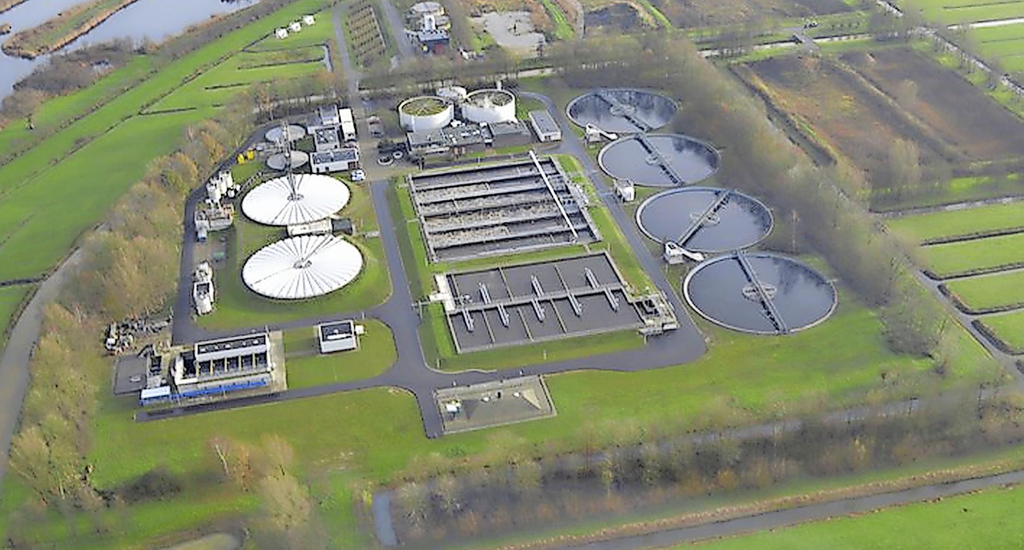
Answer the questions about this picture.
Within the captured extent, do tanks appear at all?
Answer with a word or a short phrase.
Yes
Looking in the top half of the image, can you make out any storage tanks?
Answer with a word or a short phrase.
Yes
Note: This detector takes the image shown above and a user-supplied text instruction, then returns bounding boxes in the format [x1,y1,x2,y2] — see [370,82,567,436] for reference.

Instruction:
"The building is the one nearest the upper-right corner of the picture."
[611,182,637,200]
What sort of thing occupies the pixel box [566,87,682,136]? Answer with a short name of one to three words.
storage tank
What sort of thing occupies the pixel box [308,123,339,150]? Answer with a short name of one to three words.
building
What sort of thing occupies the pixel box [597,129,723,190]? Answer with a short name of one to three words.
storage tank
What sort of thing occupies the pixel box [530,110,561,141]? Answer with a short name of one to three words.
shed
